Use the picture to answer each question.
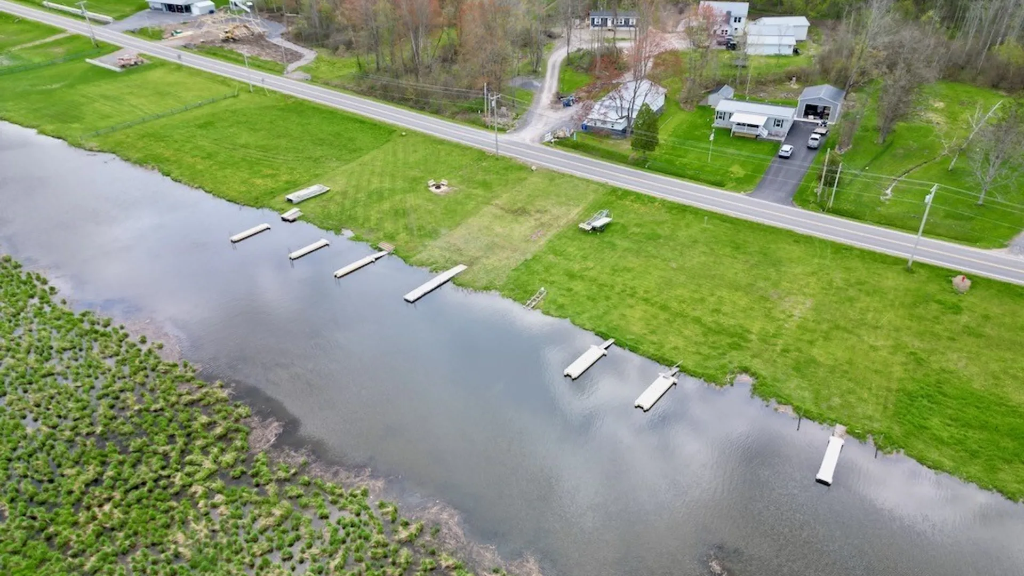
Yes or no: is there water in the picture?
Yes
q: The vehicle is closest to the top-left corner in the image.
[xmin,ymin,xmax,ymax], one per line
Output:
[116,52,147,68]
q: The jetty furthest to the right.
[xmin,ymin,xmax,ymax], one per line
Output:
[813,431,848,488]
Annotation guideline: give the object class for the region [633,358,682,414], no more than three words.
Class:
pier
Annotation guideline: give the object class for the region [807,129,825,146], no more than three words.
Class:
vehicle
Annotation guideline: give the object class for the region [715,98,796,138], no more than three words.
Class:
house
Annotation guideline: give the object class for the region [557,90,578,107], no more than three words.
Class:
work vehicle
